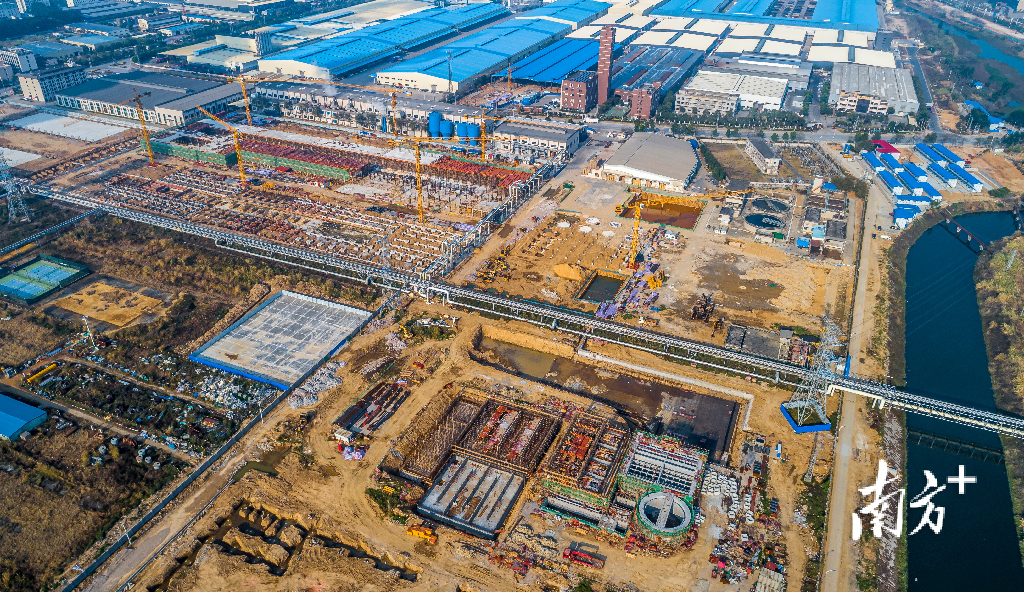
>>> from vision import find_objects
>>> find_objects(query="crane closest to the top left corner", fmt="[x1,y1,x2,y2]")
[63,89,159,168]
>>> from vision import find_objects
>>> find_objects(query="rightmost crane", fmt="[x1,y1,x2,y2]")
[614,188,755,271]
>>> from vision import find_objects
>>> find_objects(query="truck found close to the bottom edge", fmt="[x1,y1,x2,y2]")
[563,548,604,570]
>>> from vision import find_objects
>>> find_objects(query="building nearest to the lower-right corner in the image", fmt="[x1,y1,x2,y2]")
[753,564,790,592]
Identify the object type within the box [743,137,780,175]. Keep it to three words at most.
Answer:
building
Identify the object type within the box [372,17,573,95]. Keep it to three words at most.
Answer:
building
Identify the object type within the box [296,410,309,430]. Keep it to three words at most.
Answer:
vehicle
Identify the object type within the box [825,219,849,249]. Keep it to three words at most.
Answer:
house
